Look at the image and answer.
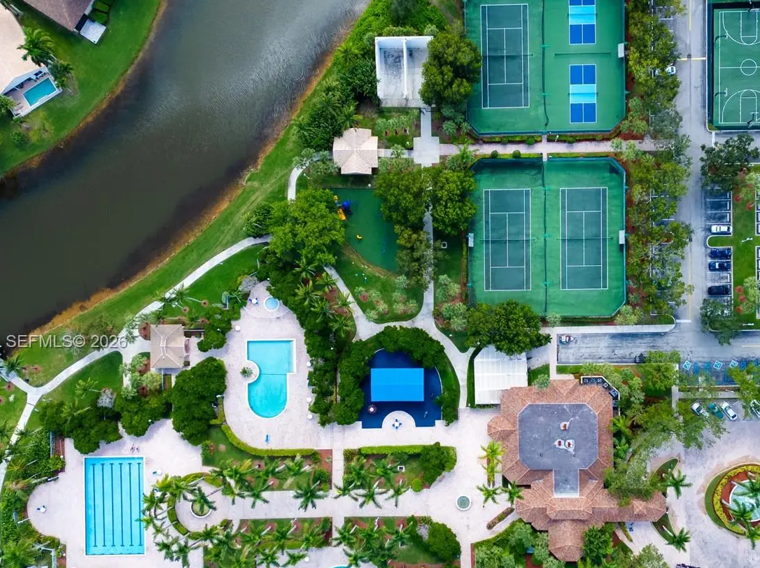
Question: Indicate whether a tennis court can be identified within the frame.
Yes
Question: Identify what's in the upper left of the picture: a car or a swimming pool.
swimming pool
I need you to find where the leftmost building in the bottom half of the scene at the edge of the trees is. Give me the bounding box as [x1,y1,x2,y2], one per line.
[150,324,185,368]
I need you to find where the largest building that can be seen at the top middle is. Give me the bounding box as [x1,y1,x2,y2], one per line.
[334,127,378,175]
